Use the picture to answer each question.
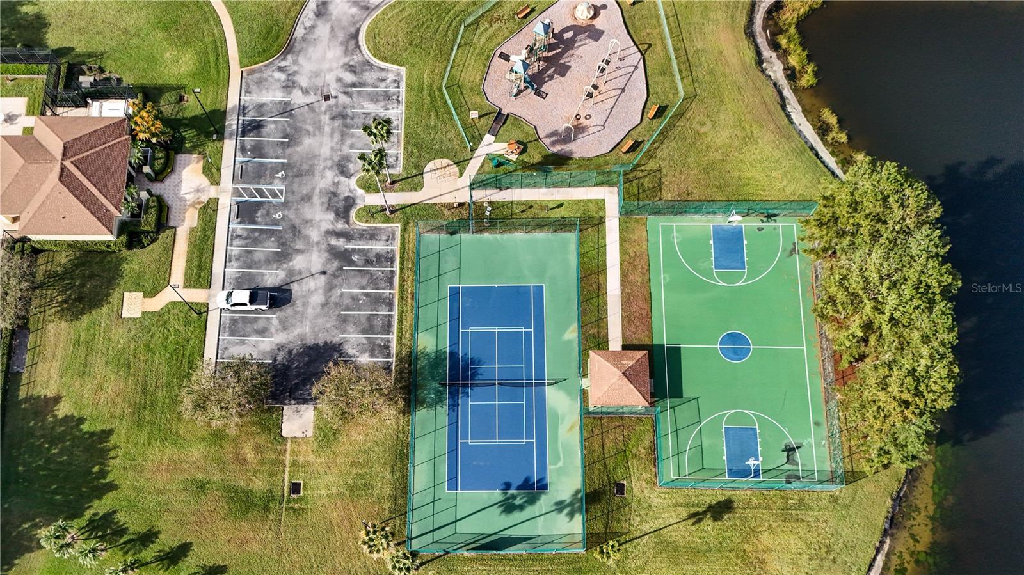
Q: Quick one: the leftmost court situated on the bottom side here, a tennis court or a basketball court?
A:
tennis court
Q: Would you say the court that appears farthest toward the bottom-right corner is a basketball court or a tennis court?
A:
basketball court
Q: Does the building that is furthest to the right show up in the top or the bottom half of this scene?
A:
bottom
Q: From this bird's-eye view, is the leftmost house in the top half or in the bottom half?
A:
top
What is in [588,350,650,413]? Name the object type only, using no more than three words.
building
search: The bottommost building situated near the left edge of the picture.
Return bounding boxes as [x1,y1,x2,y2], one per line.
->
[0,116,134,241]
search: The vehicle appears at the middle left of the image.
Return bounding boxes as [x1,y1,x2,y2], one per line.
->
[216,290,272,313]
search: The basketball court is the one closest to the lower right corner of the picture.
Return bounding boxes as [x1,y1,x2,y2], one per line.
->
[647,216,831,489]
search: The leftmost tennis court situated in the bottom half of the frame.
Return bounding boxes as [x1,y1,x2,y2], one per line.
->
[409,232,585,552]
